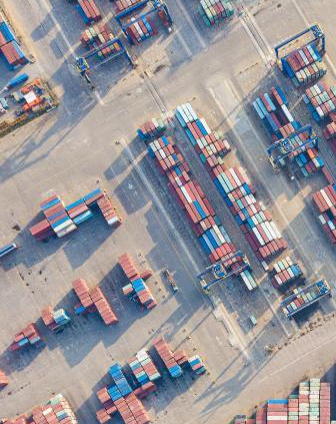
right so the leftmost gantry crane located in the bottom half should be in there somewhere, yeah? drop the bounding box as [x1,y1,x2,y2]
[201,256,250,295]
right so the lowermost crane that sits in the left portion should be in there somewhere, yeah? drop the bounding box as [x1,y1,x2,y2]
[81,38,137,87]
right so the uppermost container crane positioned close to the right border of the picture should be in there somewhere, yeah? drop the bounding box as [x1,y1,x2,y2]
[277,25,323,76]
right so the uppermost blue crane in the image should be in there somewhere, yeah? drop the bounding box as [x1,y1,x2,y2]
[115,0,168,47]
